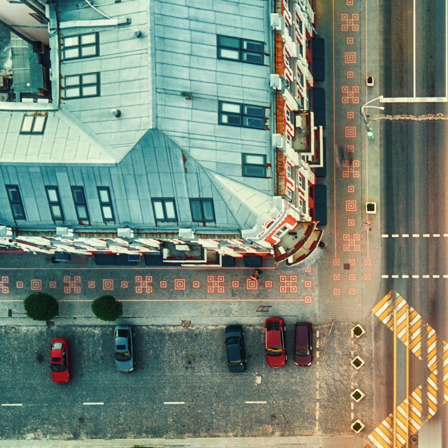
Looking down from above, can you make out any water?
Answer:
No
